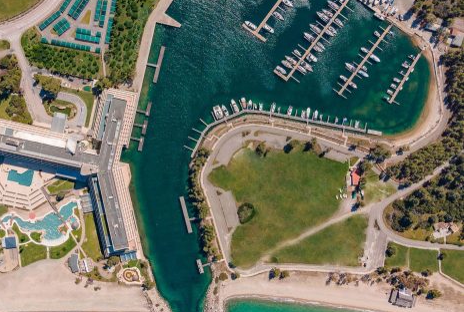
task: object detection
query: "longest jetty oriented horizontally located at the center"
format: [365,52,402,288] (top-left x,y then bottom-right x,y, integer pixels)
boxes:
[184,100,368,158]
